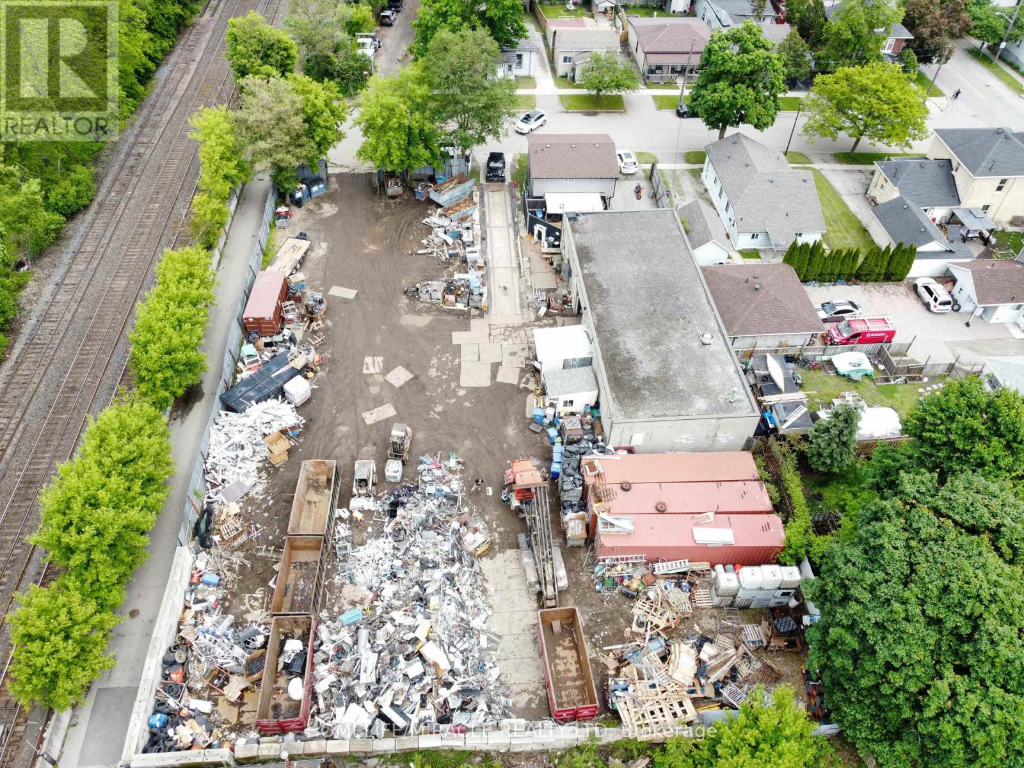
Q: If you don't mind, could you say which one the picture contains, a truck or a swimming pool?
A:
truck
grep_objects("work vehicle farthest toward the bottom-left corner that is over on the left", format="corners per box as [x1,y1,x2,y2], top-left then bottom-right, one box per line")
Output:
[344,459,378,516]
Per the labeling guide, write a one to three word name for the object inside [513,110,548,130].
car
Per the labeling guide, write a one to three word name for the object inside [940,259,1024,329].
building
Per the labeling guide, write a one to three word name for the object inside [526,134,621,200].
house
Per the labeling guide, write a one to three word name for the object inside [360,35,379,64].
vehicle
